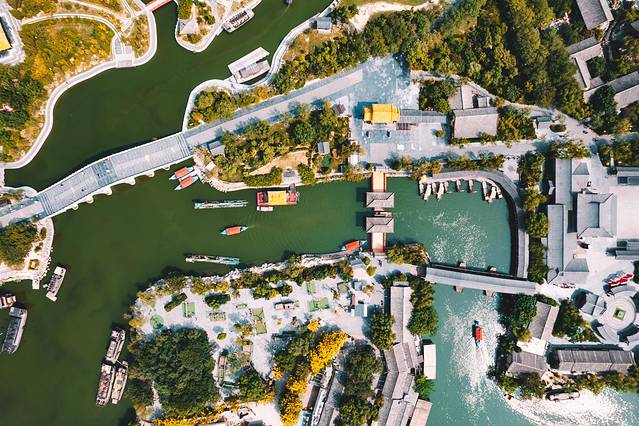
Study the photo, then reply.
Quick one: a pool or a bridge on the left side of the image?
bridge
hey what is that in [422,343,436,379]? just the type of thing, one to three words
pier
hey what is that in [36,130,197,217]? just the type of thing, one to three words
bridge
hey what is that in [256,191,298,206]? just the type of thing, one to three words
vessel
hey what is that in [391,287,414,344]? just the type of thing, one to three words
building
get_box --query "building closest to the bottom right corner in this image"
[557,348,638,375]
